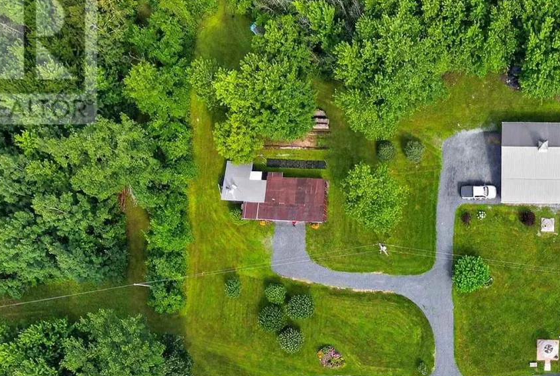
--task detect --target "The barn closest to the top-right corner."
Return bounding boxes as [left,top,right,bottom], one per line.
[502,121,560,206]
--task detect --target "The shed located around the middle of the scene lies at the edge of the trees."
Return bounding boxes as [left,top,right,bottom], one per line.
[222,162,329,223]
